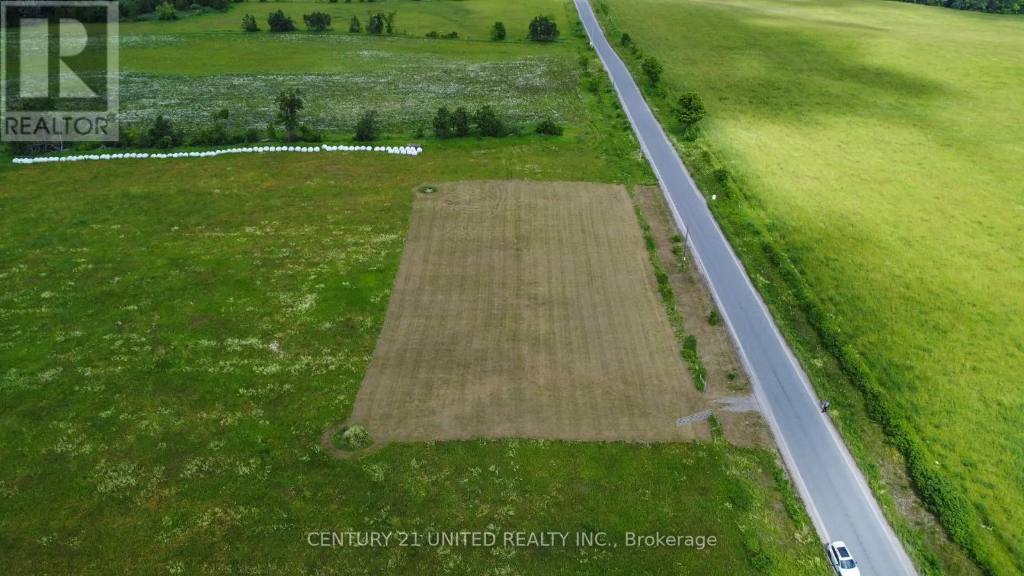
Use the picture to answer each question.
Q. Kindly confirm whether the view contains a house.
No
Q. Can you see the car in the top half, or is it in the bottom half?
bottom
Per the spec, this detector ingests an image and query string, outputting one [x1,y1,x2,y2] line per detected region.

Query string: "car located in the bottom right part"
[830,539,866,576]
